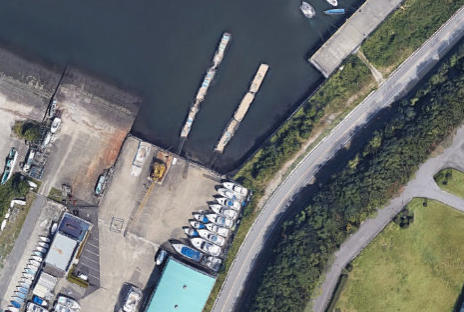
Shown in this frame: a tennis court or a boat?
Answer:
boat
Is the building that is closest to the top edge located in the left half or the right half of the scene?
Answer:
left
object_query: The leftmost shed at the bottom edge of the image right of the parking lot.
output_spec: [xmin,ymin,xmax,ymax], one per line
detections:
[145,256,217,312]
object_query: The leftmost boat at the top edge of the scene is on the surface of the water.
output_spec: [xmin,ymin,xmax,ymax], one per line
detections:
[302,2,316,20]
